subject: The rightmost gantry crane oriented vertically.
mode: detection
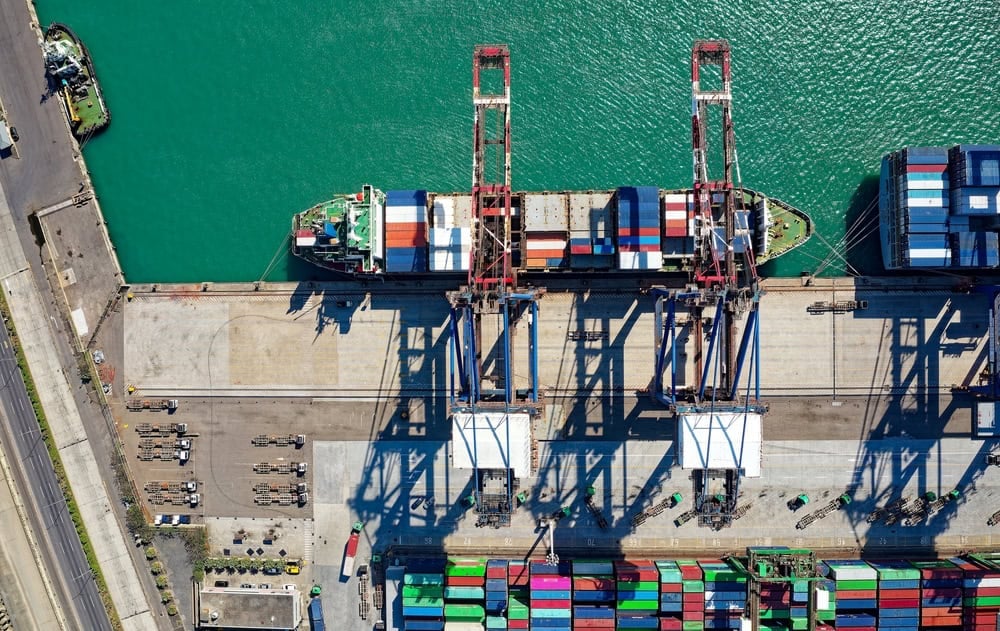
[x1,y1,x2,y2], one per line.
[943,289,1000,437]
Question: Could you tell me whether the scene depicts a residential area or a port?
port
